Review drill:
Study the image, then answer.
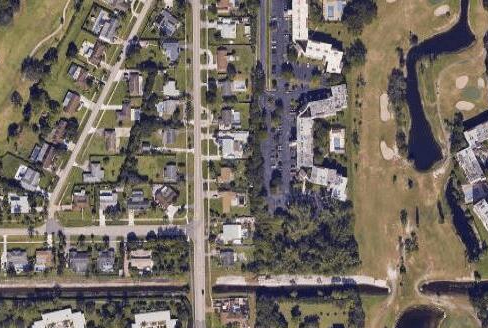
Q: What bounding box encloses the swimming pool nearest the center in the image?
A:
[330,130,345,153]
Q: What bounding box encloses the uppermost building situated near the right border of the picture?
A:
[464,121,488,149]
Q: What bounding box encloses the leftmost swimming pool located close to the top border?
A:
[323,0,345,20]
